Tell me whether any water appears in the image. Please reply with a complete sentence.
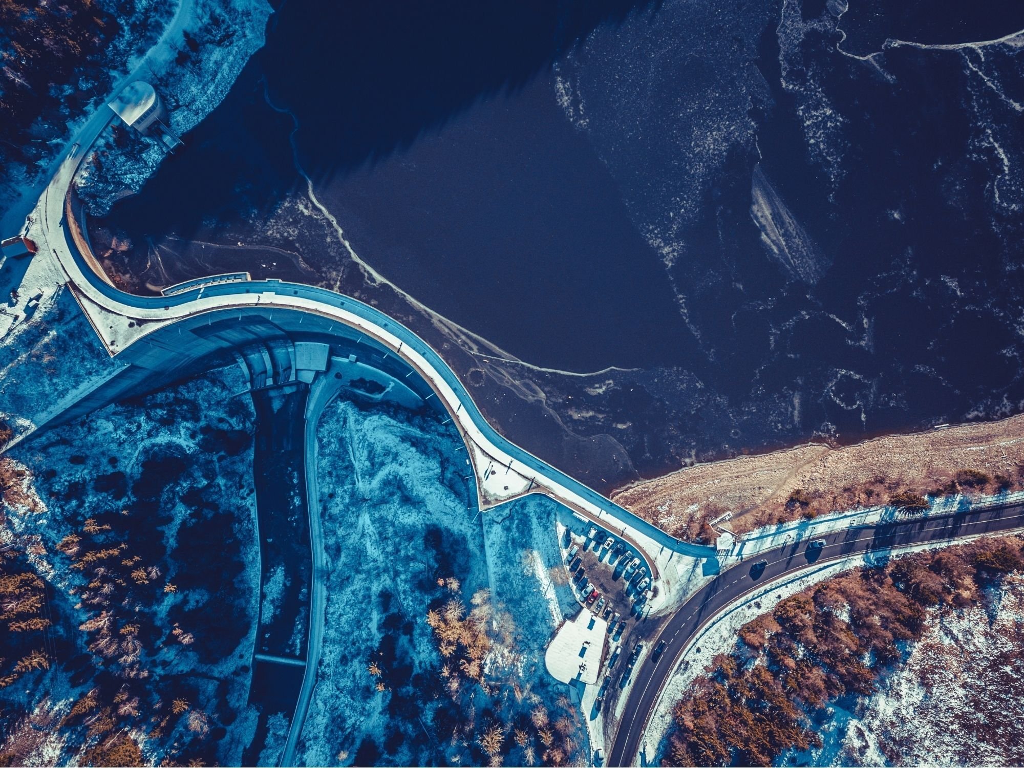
Yes, there is water in the image.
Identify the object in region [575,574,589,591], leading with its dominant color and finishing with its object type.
blue car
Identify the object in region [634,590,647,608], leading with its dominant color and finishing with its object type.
blue vehicle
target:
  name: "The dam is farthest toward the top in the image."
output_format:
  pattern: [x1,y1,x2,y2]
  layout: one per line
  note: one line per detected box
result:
[0,109,717,622]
